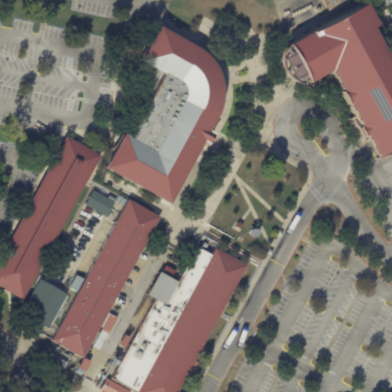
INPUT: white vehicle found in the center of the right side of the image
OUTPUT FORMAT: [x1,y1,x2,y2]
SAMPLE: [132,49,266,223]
[285,210,302,234]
